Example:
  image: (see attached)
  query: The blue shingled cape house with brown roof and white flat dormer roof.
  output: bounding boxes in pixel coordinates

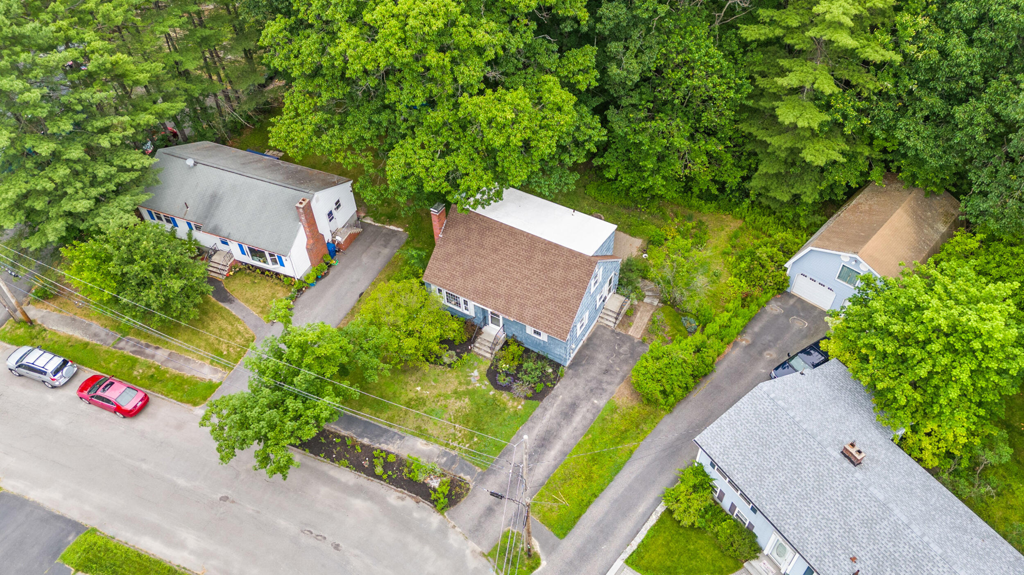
[424,182,628,366]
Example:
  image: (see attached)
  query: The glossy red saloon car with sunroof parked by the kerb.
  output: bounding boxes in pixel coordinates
[74,375,152,421]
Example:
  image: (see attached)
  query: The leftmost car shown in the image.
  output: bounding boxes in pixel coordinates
[3,347,78,392]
